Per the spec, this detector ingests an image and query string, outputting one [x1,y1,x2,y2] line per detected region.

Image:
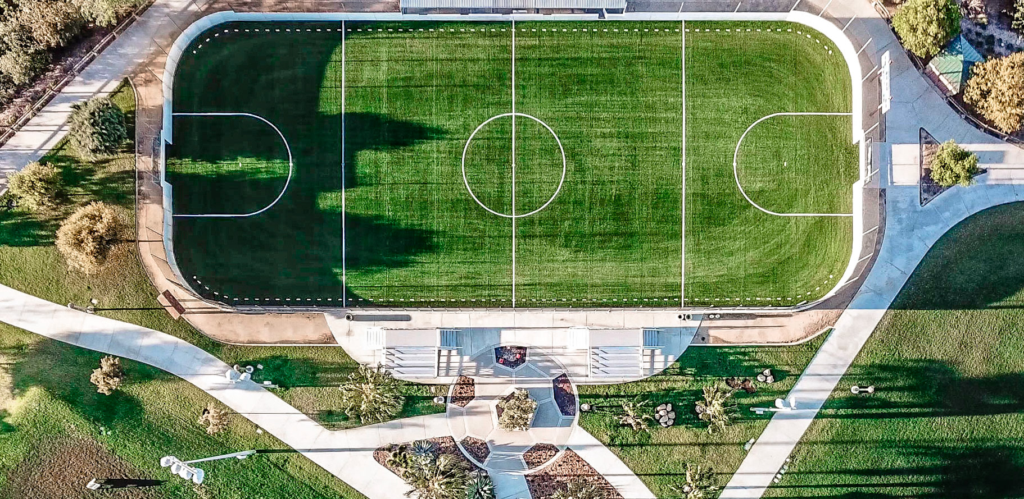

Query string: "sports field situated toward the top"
[167,21,860,307]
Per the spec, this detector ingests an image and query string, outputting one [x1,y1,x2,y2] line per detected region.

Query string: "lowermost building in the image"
[920,34,984,100]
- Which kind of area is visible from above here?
sports ground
